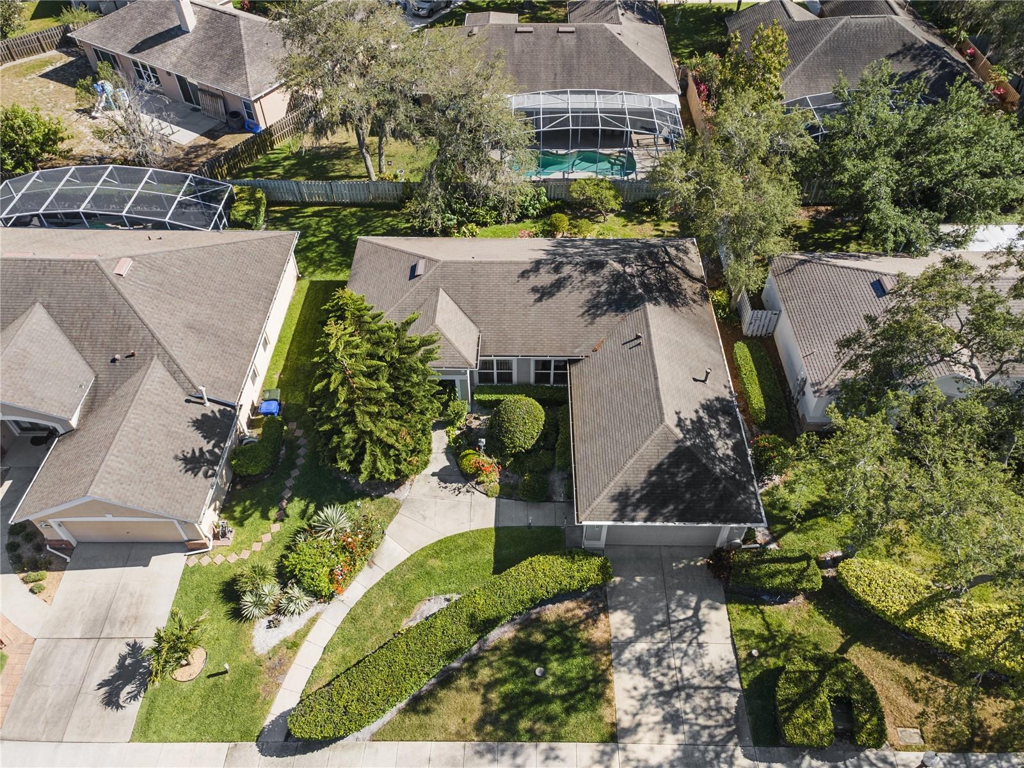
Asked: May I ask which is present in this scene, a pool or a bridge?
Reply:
pool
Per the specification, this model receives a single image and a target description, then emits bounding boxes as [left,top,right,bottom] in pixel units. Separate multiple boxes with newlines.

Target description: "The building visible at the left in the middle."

[0,227,310,571]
